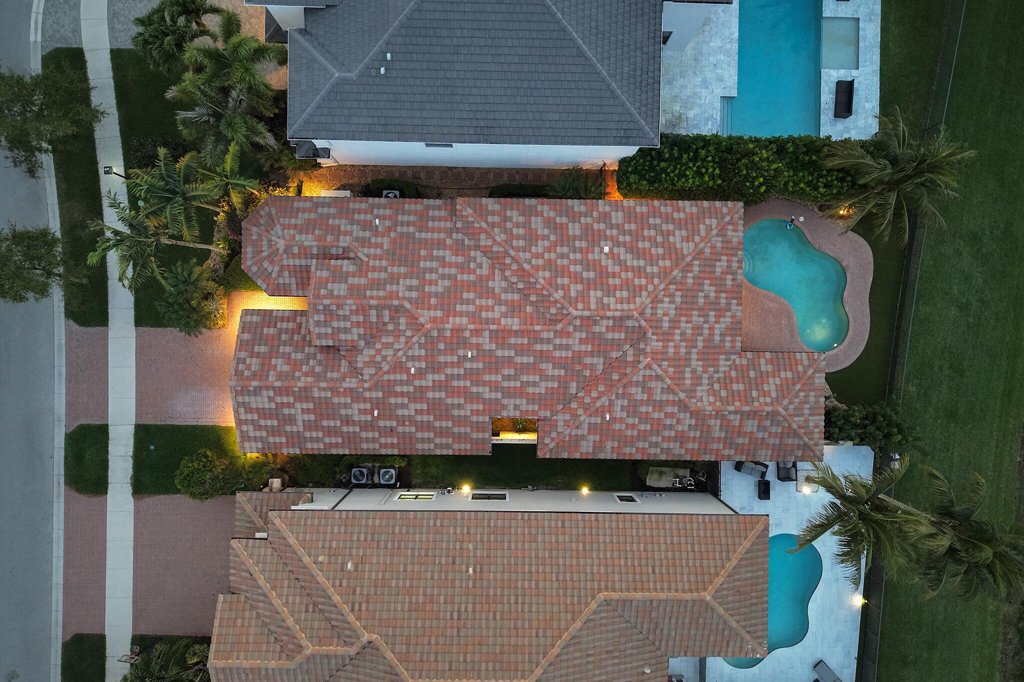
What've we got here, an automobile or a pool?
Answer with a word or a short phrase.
pool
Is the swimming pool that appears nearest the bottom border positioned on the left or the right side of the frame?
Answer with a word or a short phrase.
right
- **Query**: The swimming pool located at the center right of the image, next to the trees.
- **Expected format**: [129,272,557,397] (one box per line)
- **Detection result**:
[743,213,854,356]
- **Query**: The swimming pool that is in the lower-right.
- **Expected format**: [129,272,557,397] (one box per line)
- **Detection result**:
[722,534,823,669]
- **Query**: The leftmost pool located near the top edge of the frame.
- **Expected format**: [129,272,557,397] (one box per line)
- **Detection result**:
[721,0,821,145]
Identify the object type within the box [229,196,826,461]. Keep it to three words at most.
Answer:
house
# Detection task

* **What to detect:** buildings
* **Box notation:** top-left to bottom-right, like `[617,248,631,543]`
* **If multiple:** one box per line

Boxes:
[242,0,733,171]
[229,196,826,461]
[206,488,770,682]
